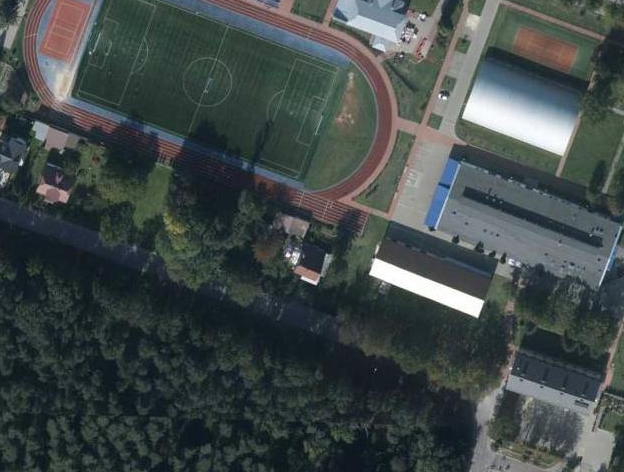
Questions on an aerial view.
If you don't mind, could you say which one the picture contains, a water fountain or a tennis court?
tennis court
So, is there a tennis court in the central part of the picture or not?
No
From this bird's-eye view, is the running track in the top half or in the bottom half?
top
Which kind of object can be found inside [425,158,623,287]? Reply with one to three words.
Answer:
building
